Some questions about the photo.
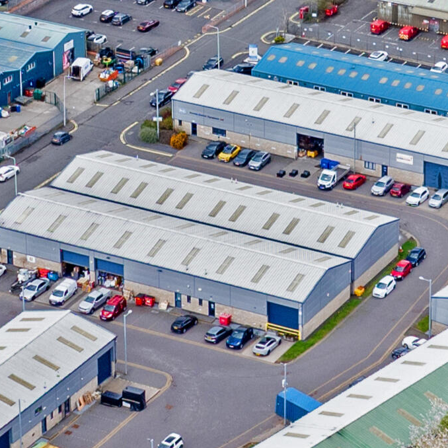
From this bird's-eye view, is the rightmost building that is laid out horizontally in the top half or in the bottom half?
top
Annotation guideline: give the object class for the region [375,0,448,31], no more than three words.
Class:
building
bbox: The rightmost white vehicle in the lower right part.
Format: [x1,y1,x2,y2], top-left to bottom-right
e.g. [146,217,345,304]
[398,335,426,349]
